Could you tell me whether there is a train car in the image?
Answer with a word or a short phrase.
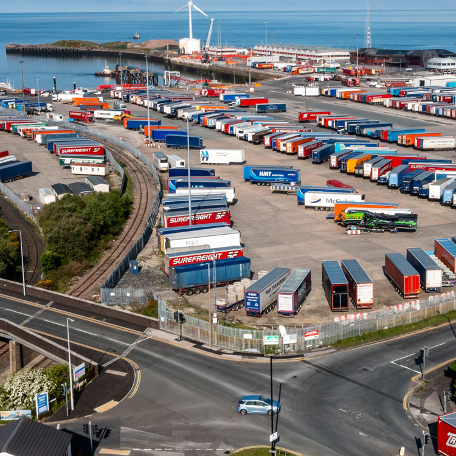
No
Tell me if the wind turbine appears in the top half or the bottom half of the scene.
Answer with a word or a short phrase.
top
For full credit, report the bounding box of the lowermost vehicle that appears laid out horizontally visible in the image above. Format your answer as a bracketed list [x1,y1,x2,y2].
[238,396,278,414]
